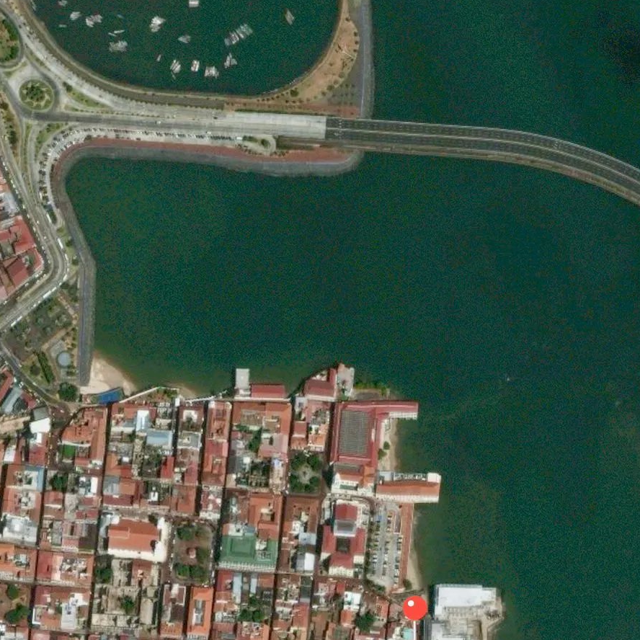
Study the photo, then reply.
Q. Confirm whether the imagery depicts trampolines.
No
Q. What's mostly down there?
water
